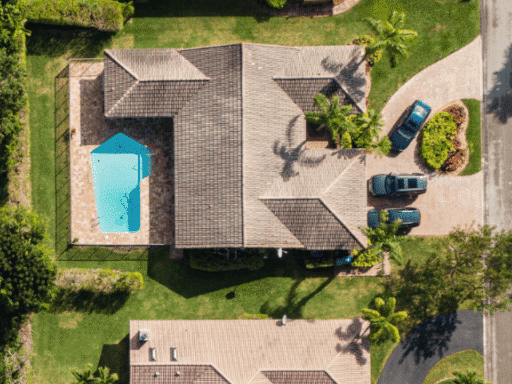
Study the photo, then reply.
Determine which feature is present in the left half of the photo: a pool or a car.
pool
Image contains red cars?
No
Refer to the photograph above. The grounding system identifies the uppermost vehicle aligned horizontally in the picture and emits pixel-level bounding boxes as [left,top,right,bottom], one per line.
[367,171,429,199]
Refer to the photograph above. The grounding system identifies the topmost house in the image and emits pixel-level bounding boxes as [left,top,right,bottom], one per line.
[104,41,368,250]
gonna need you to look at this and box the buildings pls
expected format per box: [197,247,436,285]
[129,318,370,384]
[104,41,368,250]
